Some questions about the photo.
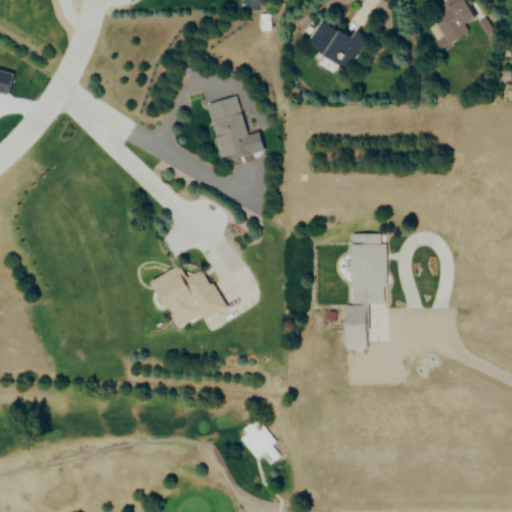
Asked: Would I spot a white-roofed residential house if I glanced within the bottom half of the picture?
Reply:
Yes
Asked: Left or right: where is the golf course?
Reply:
left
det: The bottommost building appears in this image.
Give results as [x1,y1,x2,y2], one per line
[241,422,282,465]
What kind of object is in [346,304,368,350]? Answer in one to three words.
building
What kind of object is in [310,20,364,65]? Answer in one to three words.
house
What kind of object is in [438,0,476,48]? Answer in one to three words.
house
